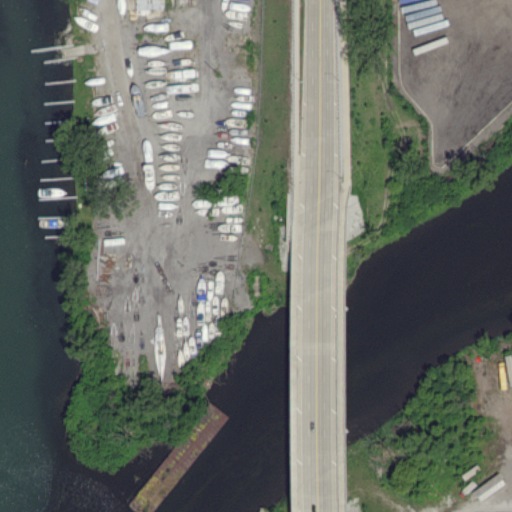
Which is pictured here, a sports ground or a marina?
marina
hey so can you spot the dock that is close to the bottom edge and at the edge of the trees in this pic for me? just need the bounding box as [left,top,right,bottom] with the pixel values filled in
[124,403,228,512]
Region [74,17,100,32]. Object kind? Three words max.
boat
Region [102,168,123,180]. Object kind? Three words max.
boat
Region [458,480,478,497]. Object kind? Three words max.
vehicle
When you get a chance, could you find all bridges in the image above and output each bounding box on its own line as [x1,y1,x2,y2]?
[290,186,350,512]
